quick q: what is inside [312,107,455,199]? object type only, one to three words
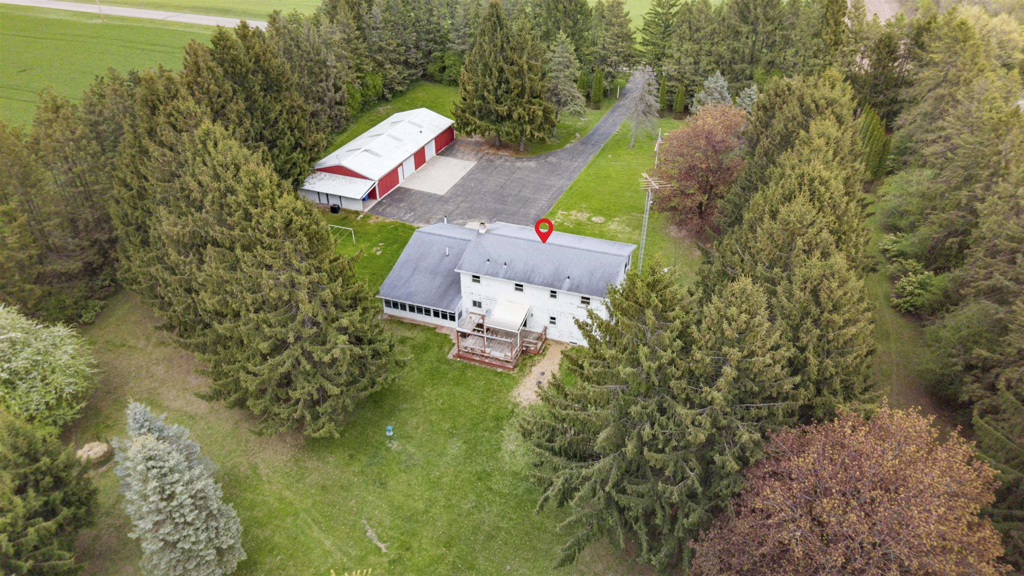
barn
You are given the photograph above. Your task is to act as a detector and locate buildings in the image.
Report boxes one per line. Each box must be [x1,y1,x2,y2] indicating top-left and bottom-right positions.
[312,107,455,199]
[377,215,638,349]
